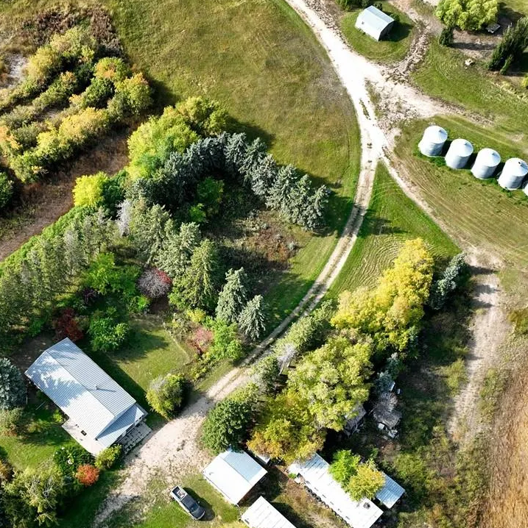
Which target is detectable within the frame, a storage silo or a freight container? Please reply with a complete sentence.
There is a storage silo in the scene.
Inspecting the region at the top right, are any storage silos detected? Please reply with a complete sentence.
Yes, you'll find a storage silo at the top right.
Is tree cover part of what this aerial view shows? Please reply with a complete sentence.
Yes, there is tree cover in the image.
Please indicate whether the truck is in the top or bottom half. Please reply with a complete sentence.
Seen from above, the truck lies in the bottom half of the view.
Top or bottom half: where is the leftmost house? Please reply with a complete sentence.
It is in the bottom half that the leftmost house appears.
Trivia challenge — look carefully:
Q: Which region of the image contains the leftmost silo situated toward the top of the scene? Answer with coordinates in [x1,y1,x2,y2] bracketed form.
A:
[418,124,447,158]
